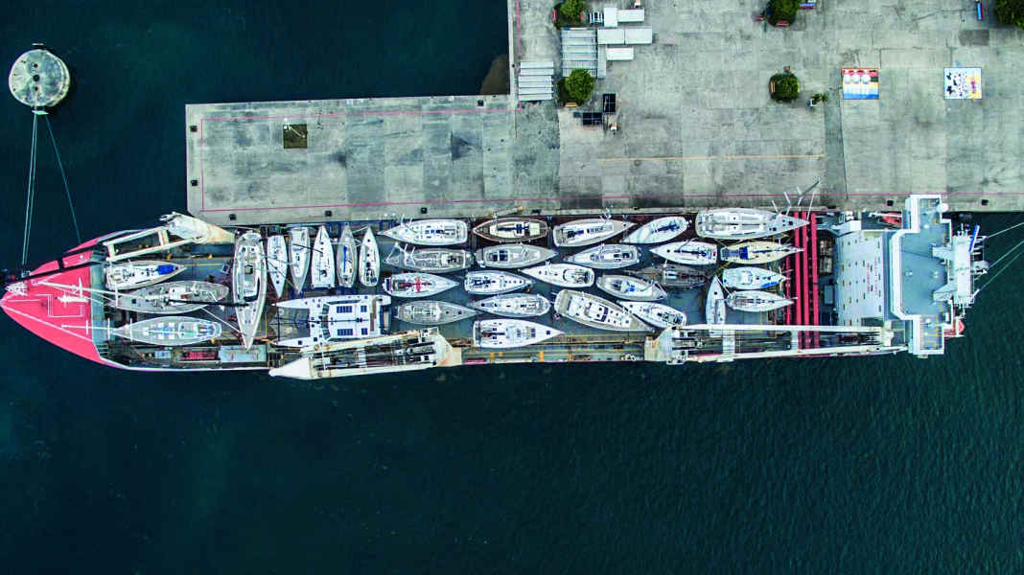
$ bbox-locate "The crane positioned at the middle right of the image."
[643,325,907,365]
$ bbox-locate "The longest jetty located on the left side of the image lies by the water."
[186,93,559,228]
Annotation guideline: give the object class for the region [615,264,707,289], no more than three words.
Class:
boat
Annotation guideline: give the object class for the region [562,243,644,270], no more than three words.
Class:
boat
